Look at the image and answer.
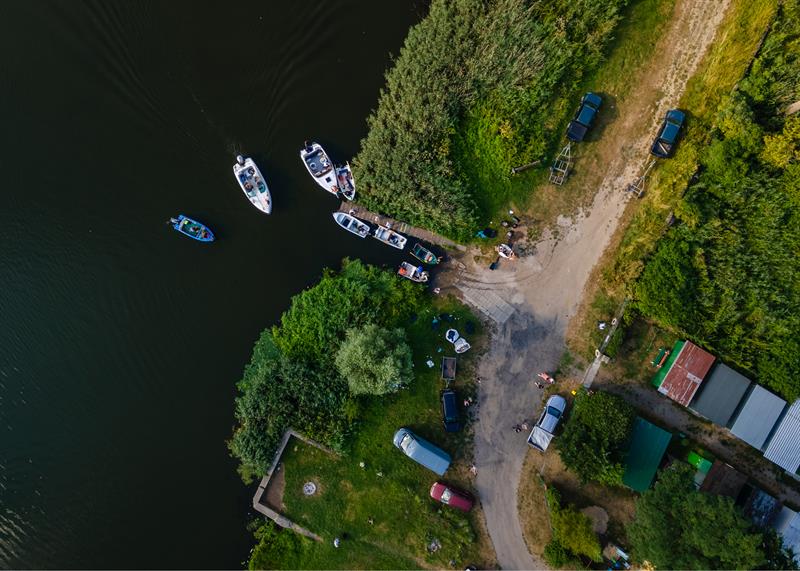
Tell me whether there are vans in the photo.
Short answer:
Yes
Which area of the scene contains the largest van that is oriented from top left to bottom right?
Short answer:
bottom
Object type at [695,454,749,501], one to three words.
shed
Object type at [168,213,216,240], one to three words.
boat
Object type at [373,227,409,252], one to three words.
boat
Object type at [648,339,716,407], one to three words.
shed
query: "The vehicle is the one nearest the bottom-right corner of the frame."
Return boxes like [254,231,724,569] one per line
[525,390,566,453]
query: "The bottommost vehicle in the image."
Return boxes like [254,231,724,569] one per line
[428,481,477,514]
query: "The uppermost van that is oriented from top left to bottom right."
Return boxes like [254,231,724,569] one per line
[393,424,452,476]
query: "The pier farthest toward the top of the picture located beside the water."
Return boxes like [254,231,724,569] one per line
[338,201,466,252]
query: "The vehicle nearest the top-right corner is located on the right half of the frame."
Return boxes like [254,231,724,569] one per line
[648,108,684,162]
